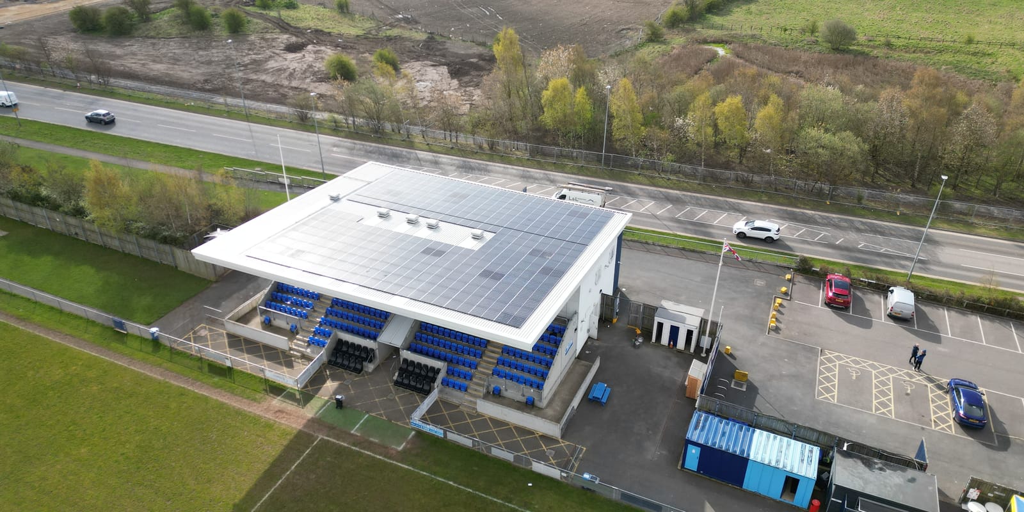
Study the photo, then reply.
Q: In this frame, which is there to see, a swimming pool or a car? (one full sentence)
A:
The one in the frame is a car.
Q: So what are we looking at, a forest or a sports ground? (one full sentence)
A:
The picture captures a sports ground.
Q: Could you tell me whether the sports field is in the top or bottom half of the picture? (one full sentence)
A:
You can find the sports field in the bottom half.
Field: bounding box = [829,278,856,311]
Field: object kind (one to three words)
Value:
car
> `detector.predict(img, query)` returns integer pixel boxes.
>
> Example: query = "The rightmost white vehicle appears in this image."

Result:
[888,287,921,323]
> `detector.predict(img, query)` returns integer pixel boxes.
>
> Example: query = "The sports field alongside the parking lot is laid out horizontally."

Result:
[0,288,641,512]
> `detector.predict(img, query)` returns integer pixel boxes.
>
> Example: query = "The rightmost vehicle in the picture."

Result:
[951,380,997,434]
